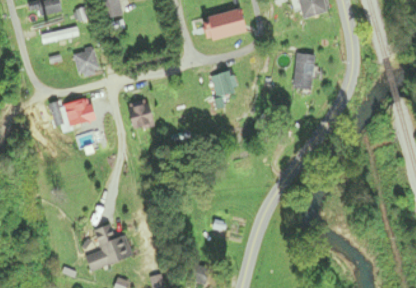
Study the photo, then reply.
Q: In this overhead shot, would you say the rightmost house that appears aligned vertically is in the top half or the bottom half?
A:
top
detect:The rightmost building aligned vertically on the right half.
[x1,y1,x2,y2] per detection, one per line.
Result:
[295,53,314,94]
